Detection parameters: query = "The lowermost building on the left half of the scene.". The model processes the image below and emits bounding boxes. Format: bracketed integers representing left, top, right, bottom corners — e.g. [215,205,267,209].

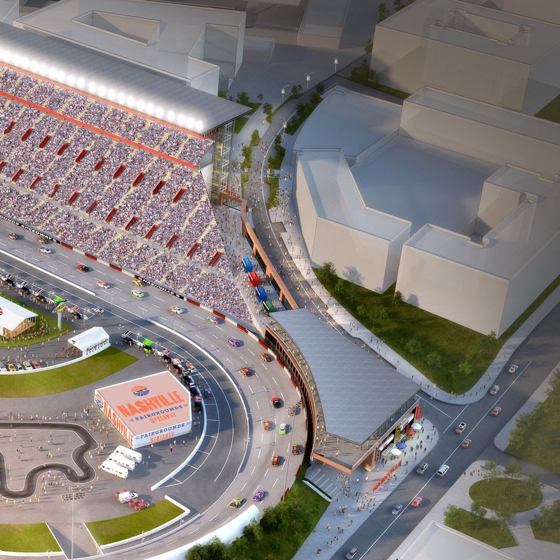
[94,368,193,449]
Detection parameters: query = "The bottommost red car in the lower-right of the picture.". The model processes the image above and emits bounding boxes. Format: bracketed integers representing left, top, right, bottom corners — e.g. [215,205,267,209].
[411,495,424,509]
